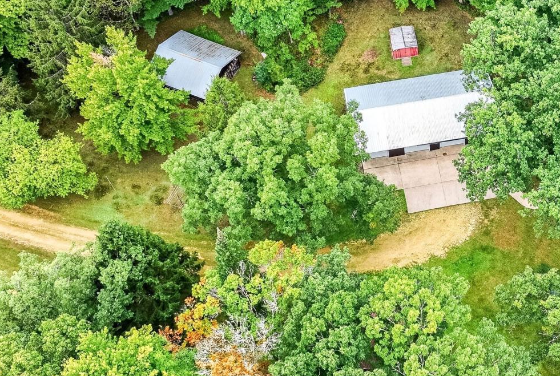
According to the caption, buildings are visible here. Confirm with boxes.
[388,22,419,59]
[343,66,503,161]
[151,29,246,104]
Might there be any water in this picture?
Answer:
No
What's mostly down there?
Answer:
trees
